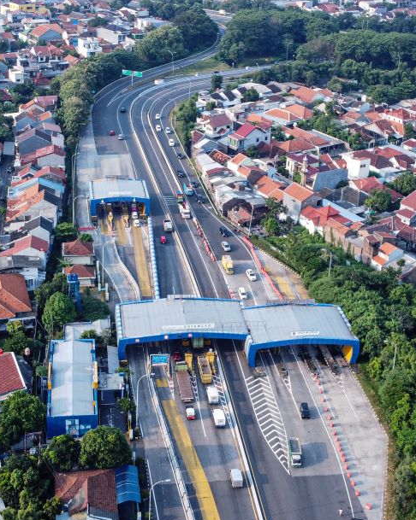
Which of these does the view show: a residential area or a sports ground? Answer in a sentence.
This image shows a residential area.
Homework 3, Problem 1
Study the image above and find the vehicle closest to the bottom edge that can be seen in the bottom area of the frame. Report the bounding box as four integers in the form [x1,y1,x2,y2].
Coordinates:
[228,464,246,493]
